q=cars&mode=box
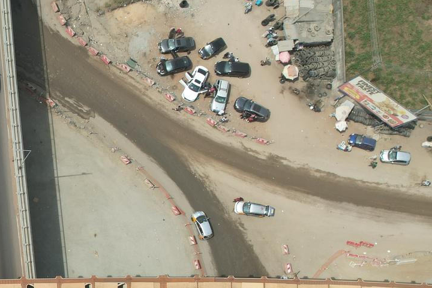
[213,60,251,79]
[156,30,197,57]
[197,35,230,61]
[190,210,215,242]
[378,148,412,165]
[154,54,194,76]
[209,79,232,114]
[231,98,273,124]
[182,63,212,104]
[233,198,276,218]
[343,133,379,153]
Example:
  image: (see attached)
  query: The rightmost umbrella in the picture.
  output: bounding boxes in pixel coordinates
[330,119,348,132]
